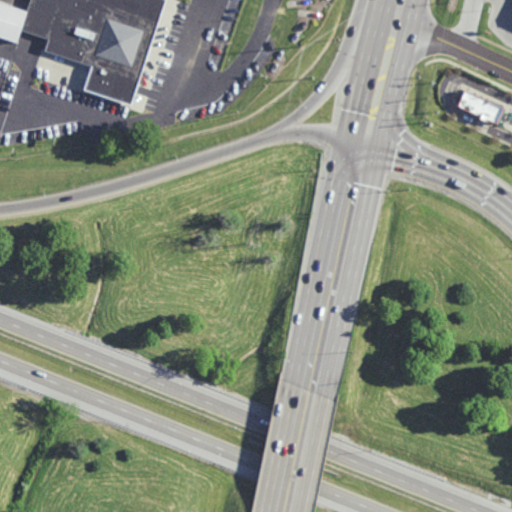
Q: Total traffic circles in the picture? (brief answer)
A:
0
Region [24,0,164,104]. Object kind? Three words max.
building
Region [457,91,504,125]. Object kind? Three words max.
building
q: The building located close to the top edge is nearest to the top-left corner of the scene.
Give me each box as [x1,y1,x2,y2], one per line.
[0,2,28,46]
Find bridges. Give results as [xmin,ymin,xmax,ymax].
[252,379,336,512]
